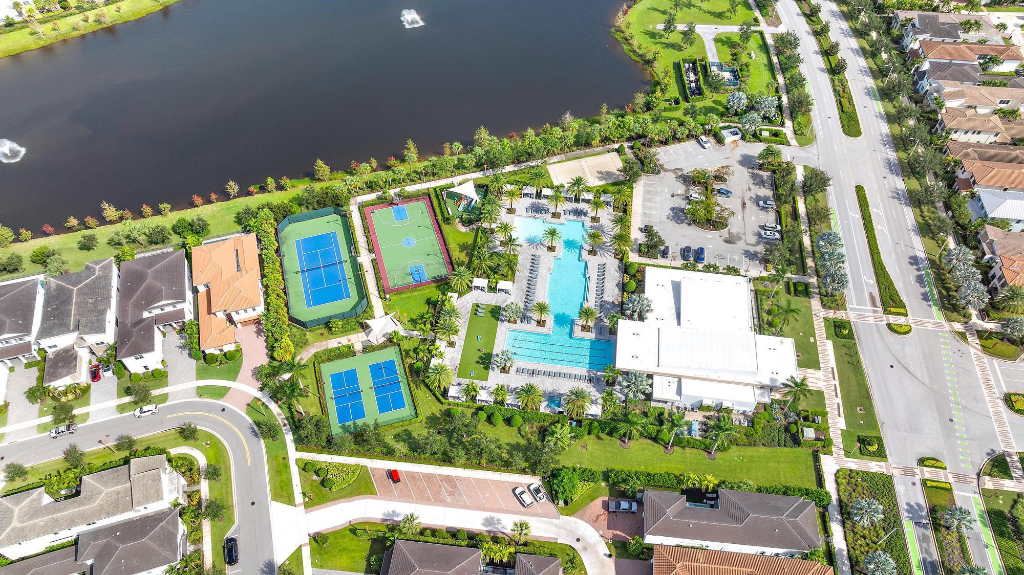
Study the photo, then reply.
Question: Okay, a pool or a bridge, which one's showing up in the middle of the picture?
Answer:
pool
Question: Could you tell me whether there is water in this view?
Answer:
Yes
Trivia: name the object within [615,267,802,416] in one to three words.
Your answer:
building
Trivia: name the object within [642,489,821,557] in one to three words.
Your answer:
house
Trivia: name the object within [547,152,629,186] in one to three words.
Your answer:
sports court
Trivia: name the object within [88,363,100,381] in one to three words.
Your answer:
vehicle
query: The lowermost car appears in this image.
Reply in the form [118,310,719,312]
[223,537,236,564]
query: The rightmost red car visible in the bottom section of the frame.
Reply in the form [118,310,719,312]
[389,464,402,487]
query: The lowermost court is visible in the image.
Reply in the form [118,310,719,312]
[320,348,416,438]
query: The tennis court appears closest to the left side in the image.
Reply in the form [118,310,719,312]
[280,214,366,329]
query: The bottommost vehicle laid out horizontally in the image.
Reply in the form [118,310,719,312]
[609,499,638,512]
